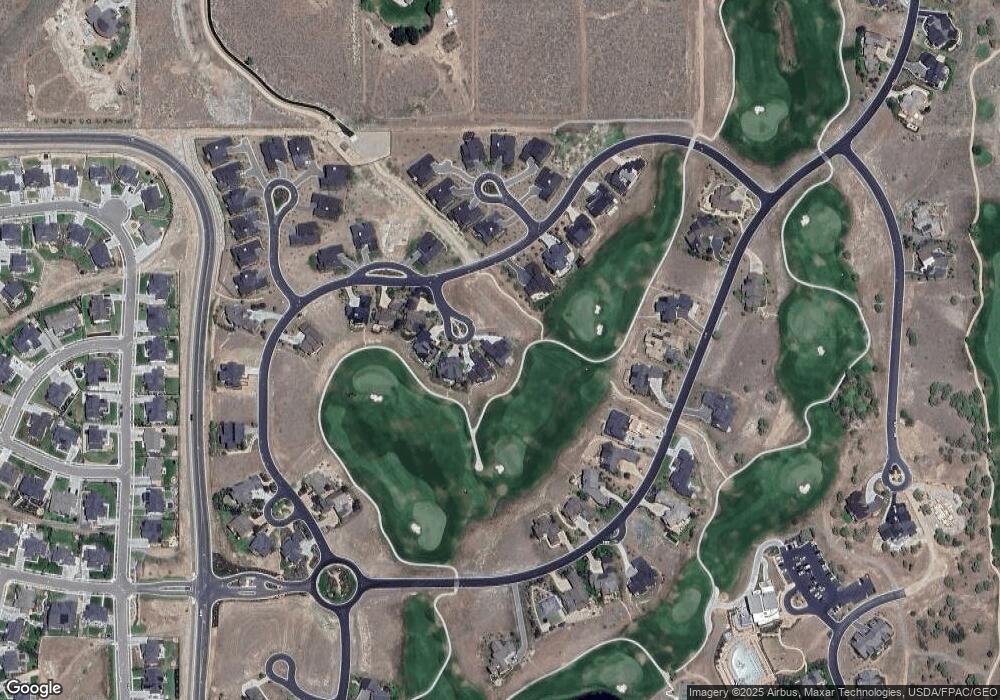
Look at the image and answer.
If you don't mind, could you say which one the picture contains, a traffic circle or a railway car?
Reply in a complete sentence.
Looking from above, you can make out a traffic circle.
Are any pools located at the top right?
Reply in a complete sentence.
No, there is no pool at the top right.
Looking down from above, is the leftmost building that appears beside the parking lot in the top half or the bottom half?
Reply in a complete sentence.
You can find the leftmost building that appears beside the parking lot in the bottom half.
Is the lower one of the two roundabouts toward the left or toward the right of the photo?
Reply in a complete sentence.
The lower one of the two roundabouts appears in the left half of the scene.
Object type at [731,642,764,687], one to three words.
swimming pool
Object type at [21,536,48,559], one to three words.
house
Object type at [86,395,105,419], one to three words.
house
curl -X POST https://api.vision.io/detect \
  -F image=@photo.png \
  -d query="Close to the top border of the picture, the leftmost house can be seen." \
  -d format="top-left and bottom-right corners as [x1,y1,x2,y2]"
[85,5,122,37]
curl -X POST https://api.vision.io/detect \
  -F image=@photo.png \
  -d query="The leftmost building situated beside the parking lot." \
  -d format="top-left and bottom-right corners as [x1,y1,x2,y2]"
[751,581,780,625]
